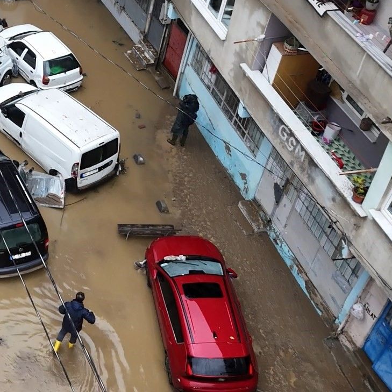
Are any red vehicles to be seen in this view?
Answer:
Yes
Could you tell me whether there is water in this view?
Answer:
Yes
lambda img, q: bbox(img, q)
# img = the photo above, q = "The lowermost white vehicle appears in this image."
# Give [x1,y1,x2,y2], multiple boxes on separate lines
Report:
[0,86,119,189]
